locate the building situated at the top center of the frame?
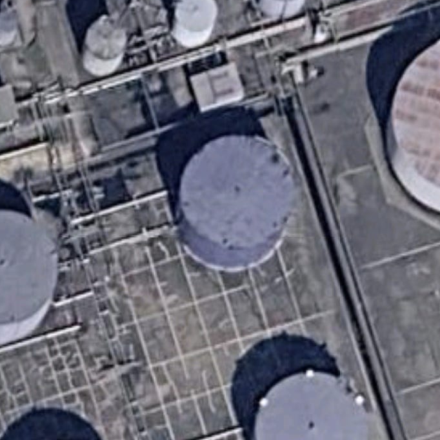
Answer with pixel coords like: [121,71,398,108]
[191,63,242,115]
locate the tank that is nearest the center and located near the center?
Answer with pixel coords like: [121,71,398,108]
[171,132,295,272]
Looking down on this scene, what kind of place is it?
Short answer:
industrial area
